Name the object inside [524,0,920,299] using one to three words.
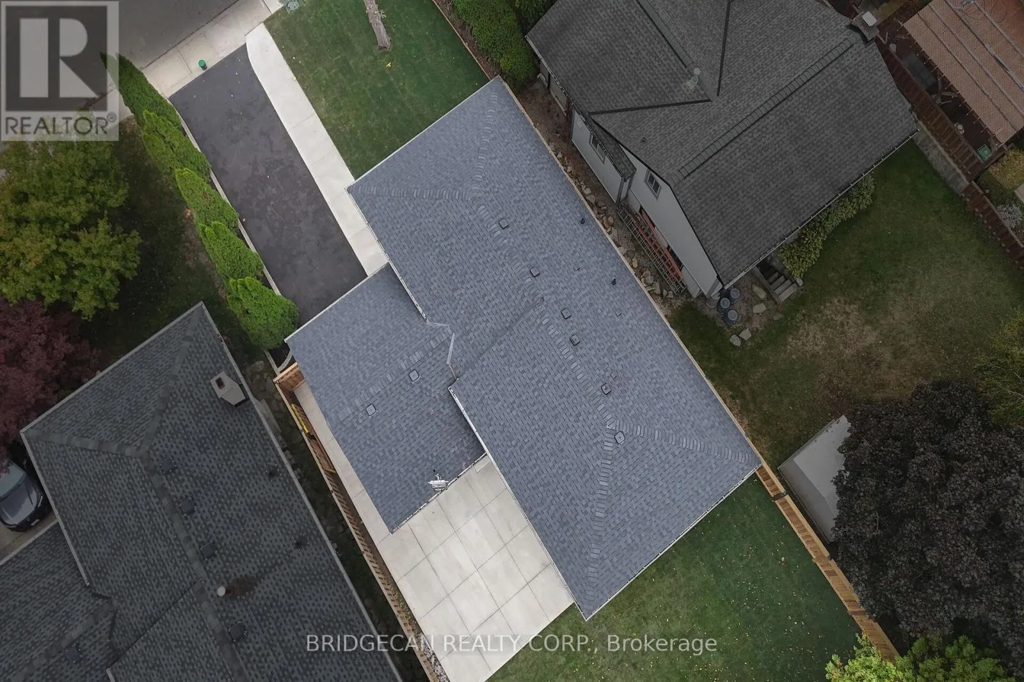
house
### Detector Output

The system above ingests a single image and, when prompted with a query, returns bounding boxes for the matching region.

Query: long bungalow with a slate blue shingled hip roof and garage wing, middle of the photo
[285,75,762,622]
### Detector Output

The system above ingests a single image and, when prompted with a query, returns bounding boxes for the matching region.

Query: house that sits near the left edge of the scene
[0,301,403,682]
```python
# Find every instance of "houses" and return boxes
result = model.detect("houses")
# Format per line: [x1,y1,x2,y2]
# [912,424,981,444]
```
[0,301,403,682]
[285,75,762,622]
[524,0,920,299]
